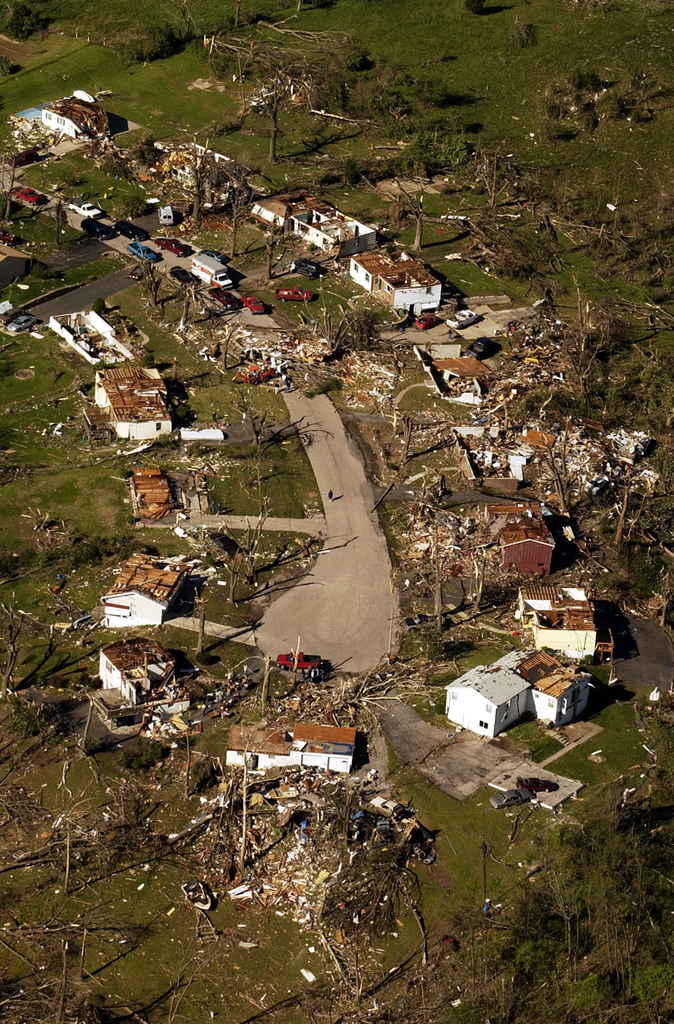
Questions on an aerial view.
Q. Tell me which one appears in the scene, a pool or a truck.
truck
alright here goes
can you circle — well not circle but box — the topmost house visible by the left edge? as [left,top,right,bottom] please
[14,93,105,138]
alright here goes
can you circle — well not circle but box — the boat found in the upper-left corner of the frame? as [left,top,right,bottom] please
[68,85,93,101]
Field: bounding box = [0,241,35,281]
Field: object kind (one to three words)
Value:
house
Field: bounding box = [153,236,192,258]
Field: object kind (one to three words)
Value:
truck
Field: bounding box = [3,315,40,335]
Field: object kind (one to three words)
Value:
car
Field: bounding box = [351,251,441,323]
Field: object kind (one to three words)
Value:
house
